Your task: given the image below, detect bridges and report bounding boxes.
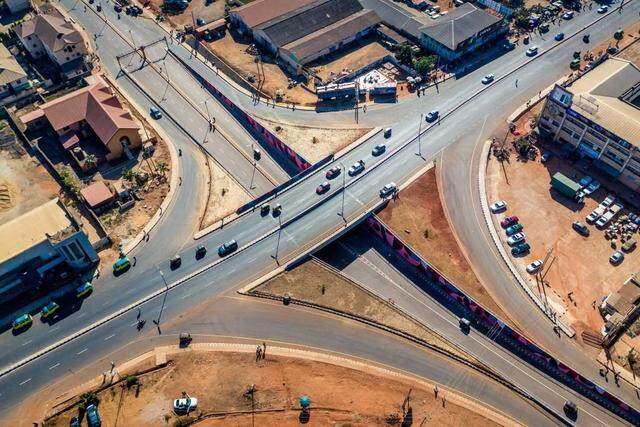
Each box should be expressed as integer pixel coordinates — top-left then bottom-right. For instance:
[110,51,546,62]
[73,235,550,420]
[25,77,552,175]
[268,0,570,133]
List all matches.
[239,153,395,266]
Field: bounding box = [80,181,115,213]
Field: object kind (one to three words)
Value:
shed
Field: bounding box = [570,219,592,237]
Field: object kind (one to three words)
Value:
car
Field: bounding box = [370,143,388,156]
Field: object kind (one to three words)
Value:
vehicle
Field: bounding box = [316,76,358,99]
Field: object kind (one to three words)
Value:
building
